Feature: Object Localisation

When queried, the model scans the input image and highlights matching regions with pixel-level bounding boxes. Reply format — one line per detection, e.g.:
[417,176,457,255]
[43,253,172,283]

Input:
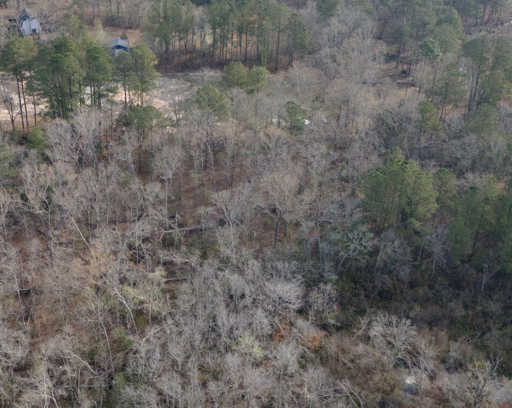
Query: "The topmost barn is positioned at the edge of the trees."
[20,8,41,35]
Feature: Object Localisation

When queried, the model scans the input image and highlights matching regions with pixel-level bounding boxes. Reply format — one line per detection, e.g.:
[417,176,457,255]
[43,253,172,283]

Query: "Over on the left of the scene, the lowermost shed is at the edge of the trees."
[110,34,131,55]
